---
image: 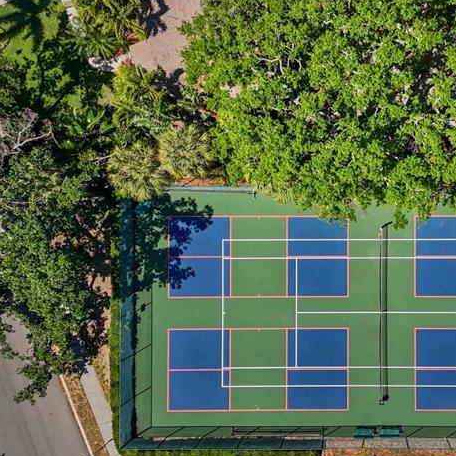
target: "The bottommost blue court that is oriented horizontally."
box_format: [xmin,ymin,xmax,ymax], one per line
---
[168,328,349,411]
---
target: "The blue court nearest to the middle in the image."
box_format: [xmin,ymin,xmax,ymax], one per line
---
[168,215,350,298]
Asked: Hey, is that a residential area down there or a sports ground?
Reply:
sports ground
